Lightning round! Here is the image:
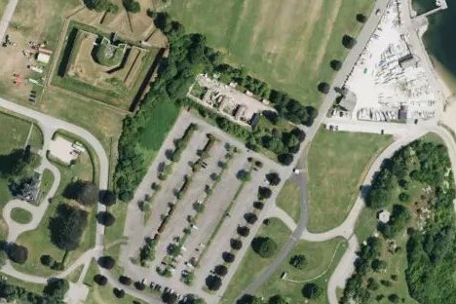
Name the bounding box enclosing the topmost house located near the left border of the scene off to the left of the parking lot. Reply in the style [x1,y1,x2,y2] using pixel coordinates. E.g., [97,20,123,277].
[19,174,40,205]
